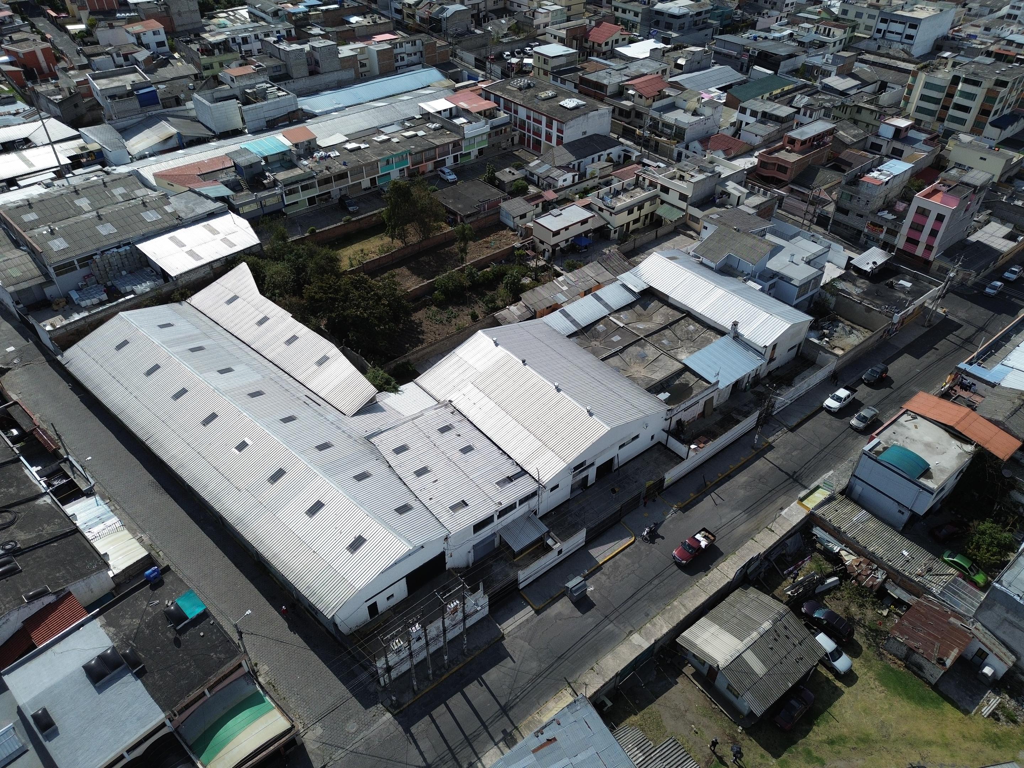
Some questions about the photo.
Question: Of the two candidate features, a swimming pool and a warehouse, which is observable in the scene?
warehouse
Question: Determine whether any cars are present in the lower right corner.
Yes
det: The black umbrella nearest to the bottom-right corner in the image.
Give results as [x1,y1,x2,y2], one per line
[728,742,742,756]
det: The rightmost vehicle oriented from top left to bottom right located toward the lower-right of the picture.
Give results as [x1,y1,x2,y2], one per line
[939,551,991,590]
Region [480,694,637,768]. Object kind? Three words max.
shed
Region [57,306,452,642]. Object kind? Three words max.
warehouse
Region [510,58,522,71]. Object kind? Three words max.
vehicle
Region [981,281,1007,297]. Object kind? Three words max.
car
